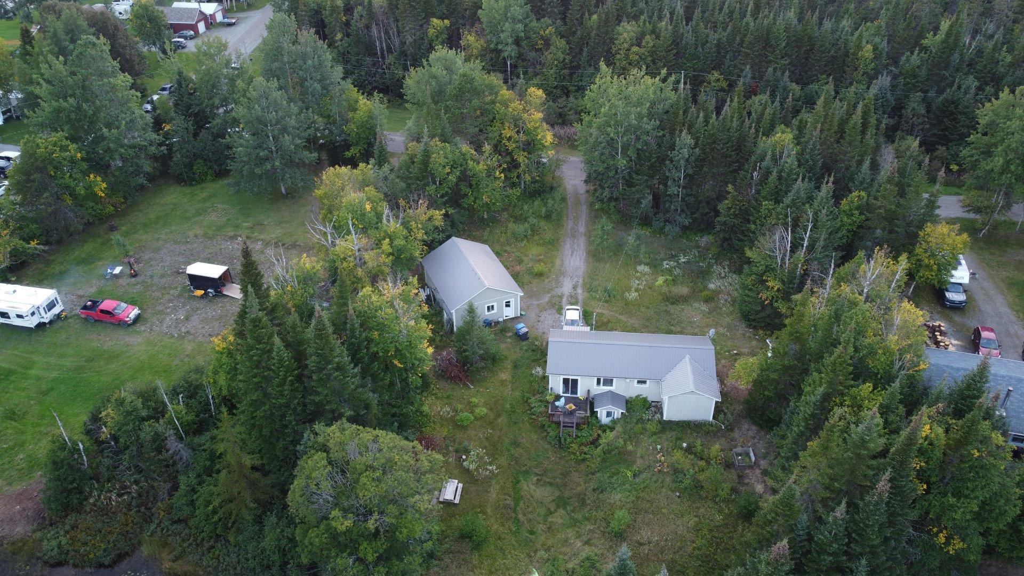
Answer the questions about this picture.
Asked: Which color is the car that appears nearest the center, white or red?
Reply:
white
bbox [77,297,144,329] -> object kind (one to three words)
truck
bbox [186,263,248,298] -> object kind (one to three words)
trailer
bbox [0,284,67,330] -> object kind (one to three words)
trailer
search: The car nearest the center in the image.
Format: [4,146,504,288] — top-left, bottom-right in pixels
[564,306,589,328]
